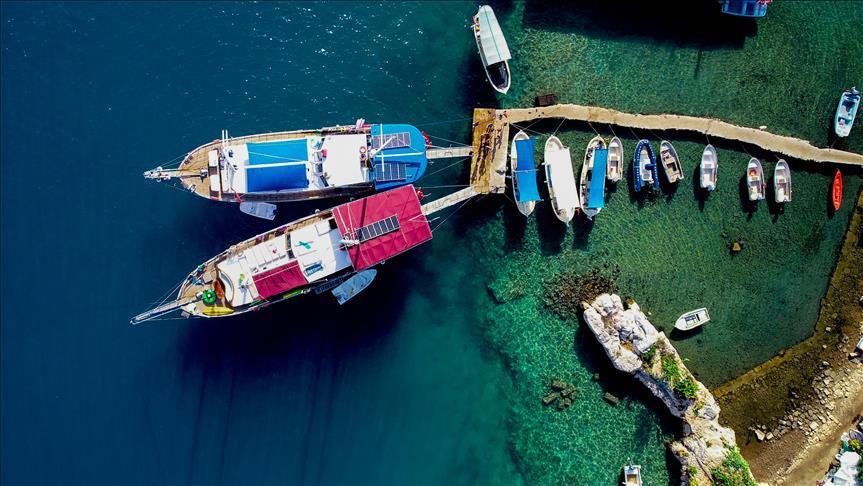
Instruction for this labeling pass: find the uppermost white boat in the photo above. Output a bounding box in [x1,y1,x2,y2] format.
[473,2,512,94]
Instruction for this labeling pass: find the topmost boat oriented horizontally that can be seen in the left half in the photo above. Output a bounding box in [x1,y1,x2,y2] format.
[145,118,474,200]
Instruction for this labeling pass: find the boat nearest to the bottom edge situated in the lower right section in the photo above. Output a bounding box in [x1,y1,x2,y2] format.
[622,460,643,486]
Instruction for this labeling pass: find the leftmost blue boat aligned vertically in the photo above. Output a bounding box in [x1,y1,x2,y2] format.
[507,118,549,220]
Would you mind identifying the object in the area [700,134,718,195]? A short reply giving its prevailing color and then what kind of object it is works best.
white boat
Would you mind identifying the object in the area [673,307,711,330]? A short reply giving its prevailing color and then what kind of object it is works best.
white boat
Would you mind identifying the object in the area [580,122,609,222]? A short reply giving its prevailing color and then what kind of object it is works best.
blue boat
